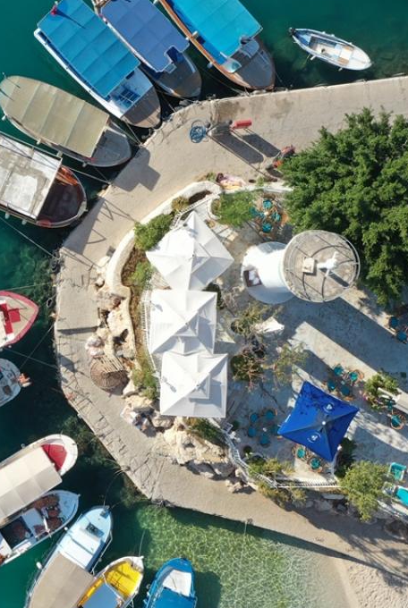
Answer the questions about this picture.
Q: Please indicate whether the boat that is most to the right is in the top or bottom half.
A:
top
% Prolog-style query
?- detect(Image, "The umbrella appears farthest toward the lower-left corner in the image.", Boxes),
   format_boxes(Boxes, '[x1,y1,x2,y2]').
[159,350,228,418]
